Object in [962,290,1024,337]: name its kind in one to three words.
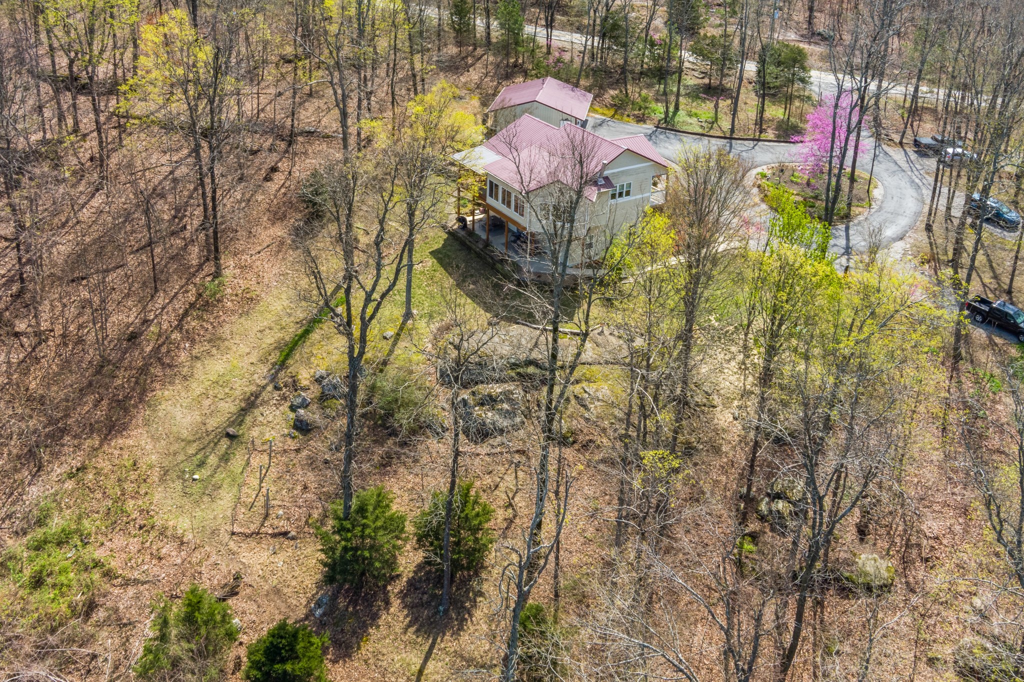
truck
